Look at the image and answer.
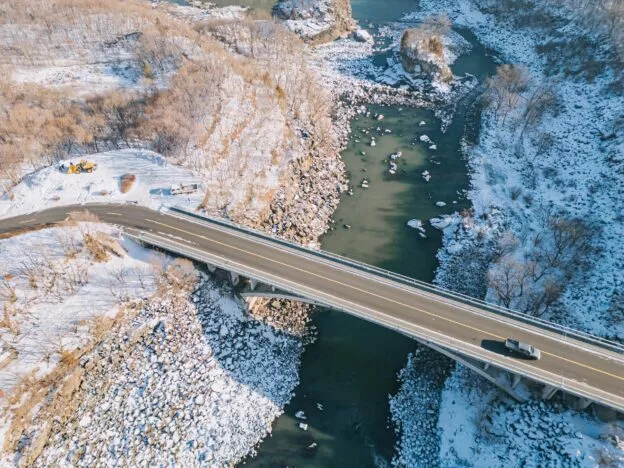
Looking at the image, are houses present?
No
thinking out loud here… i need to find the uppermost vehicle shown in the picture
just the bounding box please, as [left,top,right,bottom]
[65,157,101,175]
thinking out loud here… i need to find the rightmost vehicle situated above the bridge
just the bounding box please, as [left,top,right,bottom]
[170,180,197,194]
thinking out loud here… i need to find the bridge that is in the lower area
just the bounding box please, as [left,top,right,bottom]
[118,199,624,430]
